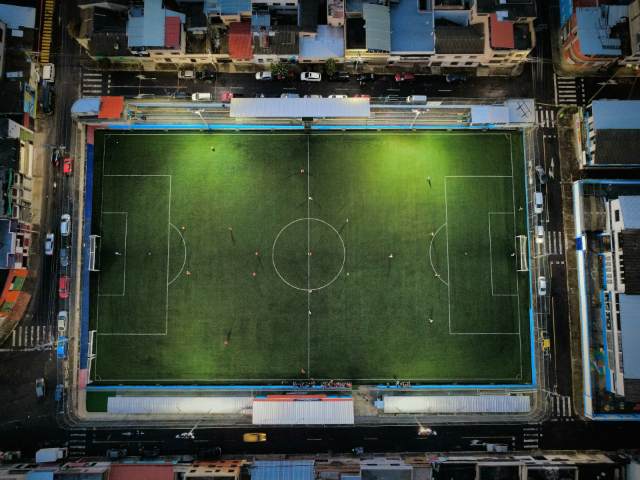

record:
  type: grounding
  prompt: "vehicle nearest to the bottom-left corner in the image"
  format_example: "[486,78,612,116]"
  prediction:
[36,446,71,461]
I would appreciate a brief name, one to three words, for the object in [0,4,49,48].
house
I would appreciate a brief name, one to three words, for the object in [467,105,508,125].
building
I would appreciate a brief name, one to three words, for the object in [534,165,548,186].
vehicle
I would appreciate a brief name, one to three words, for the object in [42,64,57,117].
vehicle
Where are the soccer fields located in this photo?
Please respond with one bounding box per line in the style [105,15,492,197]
[88,128,531,386]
